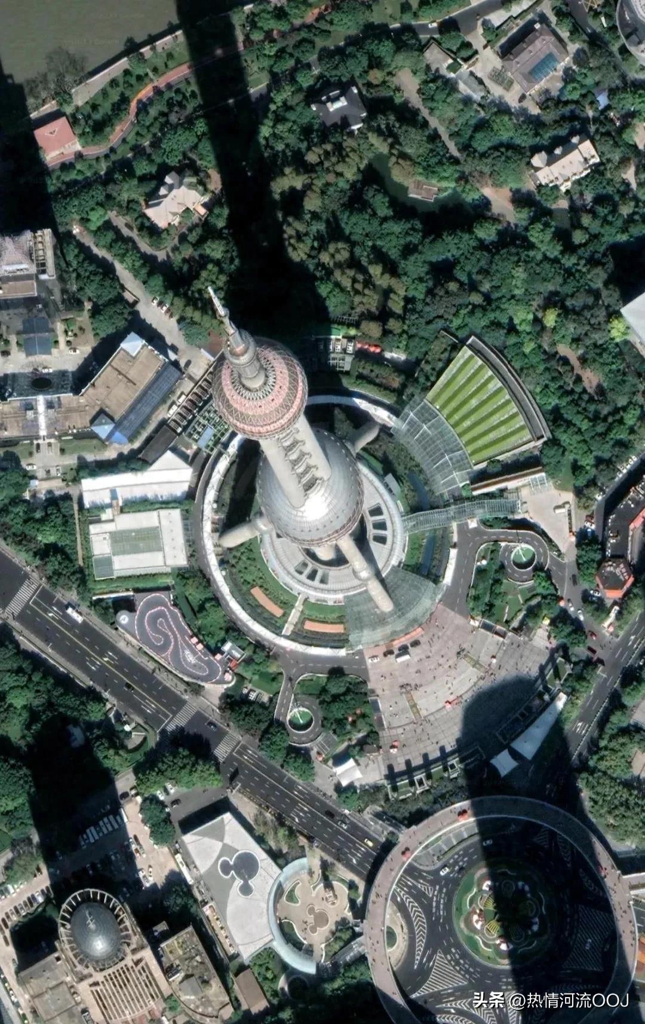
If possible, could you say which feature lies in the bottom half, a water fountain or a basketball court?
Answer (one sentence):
The feature located in the bottom half is a water fountain.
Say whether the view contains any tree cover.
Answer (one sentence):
Yes, the picture does contain tree cover.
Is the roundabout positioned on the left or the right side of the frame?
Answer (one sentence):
It is on the right.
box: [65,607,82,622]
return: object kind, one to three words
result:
vehicle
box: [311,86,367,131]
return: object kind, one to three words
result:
house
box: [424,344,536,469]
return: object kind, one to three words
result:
building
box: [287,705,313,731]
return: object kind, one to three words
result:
fountain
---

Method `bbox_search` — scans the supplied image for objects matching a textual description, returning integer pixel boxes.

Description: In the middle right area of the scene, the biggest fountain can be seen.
[511,542,536,569]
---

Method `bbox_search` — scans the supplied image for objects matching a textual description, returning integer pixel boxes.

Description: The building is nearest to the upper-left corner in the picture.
[34,117,78,159]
